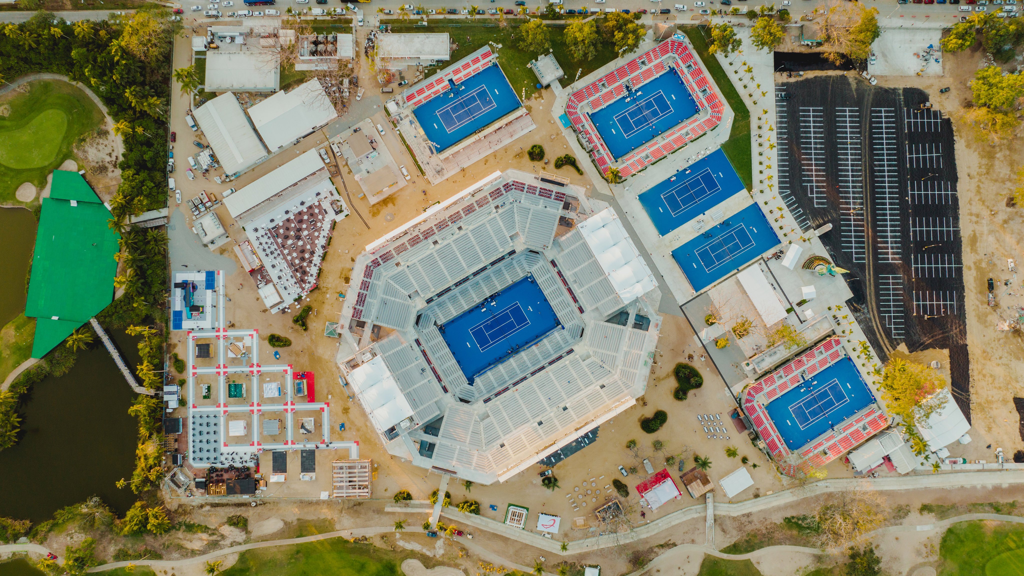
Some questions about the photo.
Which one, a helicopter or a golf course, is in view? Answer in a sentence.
The one in the frame is a golf course.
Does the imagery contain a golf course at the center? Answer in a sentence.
No, there's no golf course to be seen at the center.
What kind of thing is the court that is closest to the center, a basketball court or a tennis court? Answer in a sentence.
The court that is closest to the center can be classified as a tennis court.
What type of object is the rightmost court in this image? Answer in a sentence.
The rightmost court in the image is a tennis court.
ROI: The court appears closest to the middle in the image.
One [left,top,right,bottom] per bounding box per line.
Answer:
[440,272,561,382]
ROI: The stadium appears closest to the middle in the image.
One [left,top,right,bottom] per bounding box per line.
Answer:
[329,168,666,486]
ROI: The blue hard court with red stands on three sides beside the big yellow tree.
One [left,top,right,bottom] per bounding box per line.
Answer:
[766,356,875,451]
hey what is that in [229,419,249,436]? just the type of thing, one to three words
tent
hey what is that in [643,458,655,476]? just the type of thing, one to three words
vehicle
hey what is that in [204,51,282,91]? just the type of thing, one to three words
building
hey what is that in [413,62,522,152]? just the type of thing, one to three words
tennis court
